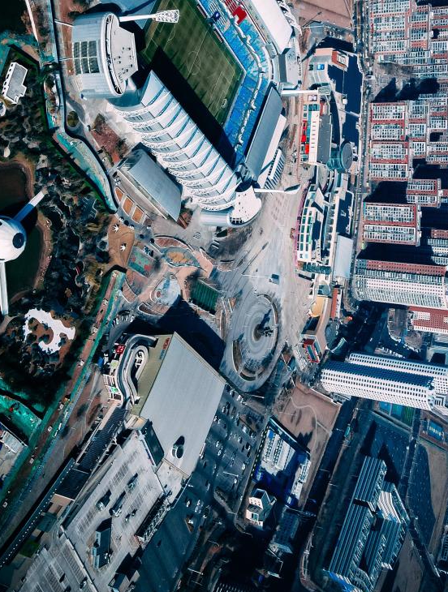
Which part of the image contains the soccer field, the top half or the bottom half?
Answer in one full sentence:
It is in the top half that the soccer field appears.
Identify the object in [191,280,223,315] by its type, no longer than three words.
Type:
sports court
